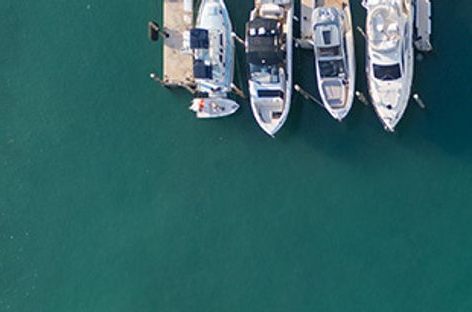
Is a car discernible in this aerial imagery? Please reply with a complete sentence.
No, the photo shows no car.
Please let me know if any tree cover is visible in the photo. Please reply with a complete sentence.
No, the picture contains no tree cover.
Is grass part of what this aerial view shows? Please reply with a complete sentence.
No, no grass is visible.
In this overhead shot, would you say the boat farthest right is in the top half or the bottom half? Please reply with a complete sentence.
You can find the boat farthest right in the top half.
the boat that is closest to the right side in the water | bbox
[365,0,415,131]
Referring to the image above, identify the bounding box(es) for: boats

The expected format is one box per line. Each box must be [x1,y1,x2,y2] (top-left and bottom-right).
[245,0,298,138]
[191,98,241,118]
[365,0,415,131]
[314,0,360,121]
[190,0,237,98]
